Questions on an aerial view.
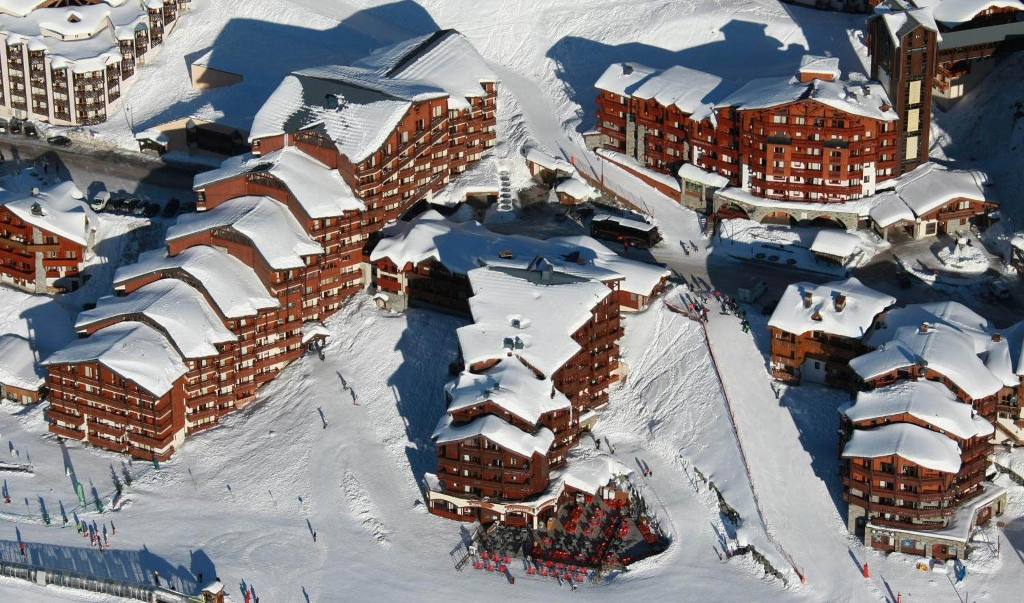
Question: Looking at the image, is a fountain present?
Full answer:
Yes, a fountain is visible in the scene.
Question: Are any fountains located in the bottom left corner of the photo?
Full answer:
No, no fountain appears in the bottom left corner of the photo.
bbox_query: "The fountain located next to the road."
[931,237,988,276]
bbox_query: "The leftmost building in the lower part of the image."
[0,332,45,423]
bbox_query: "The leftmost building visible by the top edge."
[0,0,187,131]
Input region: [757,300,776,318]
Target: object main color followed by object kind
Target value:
black car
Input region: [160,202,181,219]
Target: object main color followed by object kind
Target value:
black car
